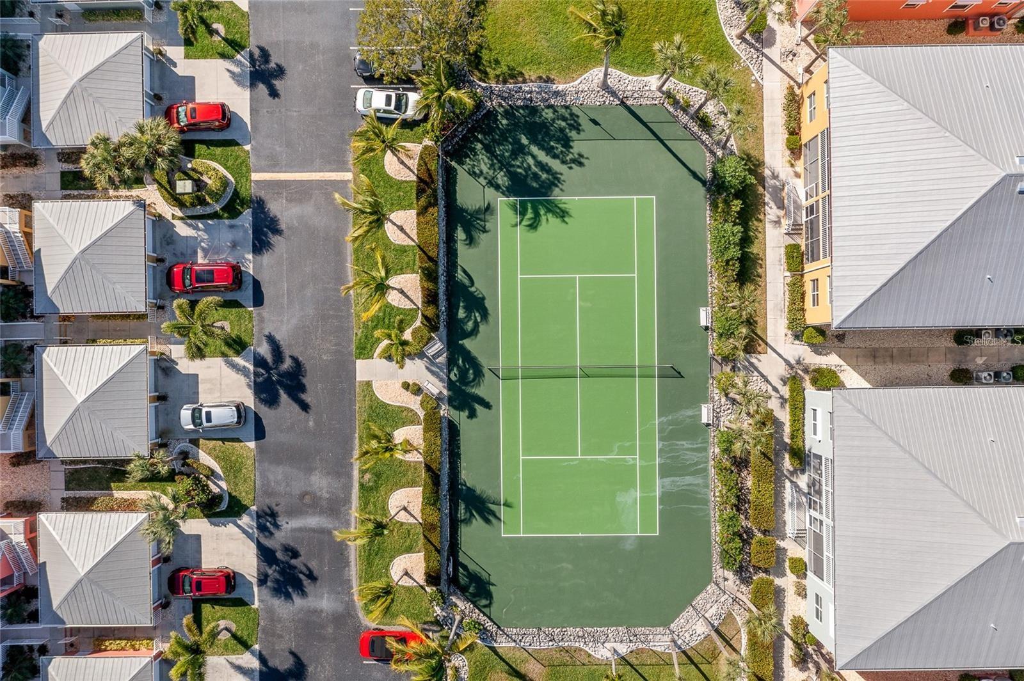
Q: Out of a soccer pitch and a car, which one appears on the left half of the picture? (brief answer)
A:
car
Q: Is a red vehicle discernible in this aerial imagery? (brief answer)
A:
Yes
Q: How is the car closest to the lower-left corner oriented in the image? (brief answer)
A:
from left to right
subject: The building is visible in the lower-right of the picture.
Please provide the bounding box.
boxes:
[781,385,1024,669]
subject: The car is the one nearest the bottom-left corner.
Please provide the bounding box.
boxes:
[168,566,237,600]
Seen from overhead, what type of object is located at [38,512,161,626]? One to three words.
building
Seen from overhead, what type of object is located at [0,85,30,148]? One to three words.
house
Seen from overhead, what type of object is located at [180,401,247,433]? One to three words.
car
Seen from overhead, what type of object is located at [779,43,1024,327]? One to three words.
building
